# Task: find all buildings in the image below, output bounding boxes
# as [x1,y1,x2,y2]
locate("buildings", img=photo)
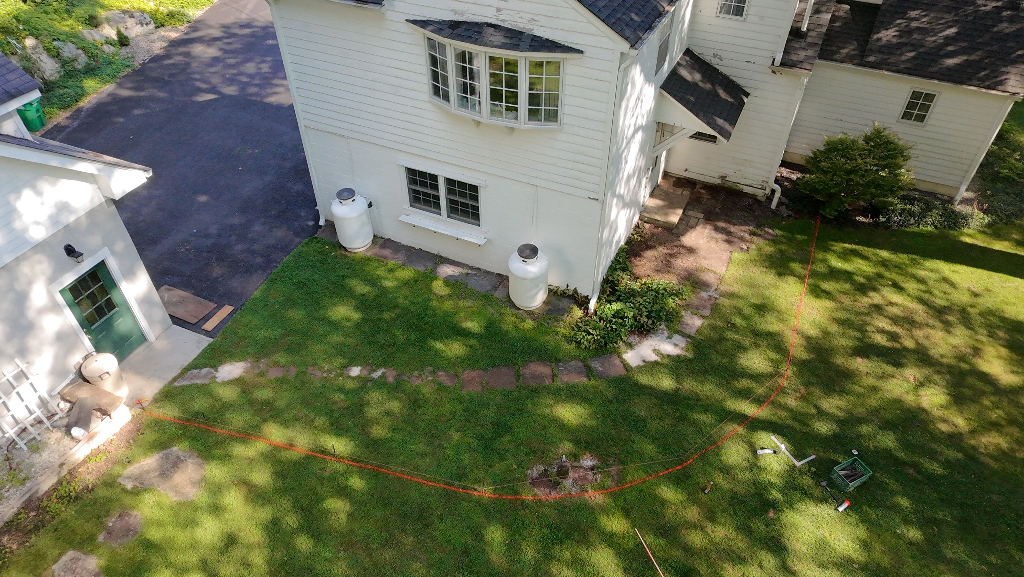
[0,43,171,463]
[244,0,1024,302]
